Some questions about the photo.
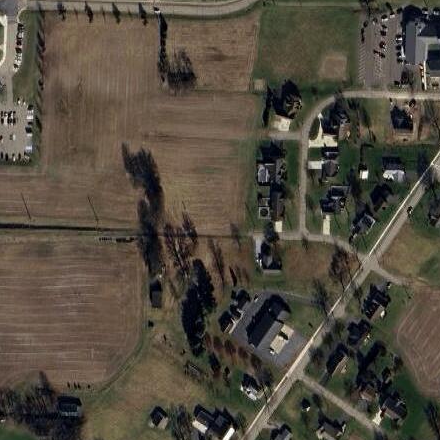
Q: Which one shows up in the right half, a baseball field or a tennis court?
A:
baseball field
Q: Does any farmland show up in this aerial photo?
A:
Yes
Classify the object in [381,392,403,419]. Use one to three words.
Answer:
house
